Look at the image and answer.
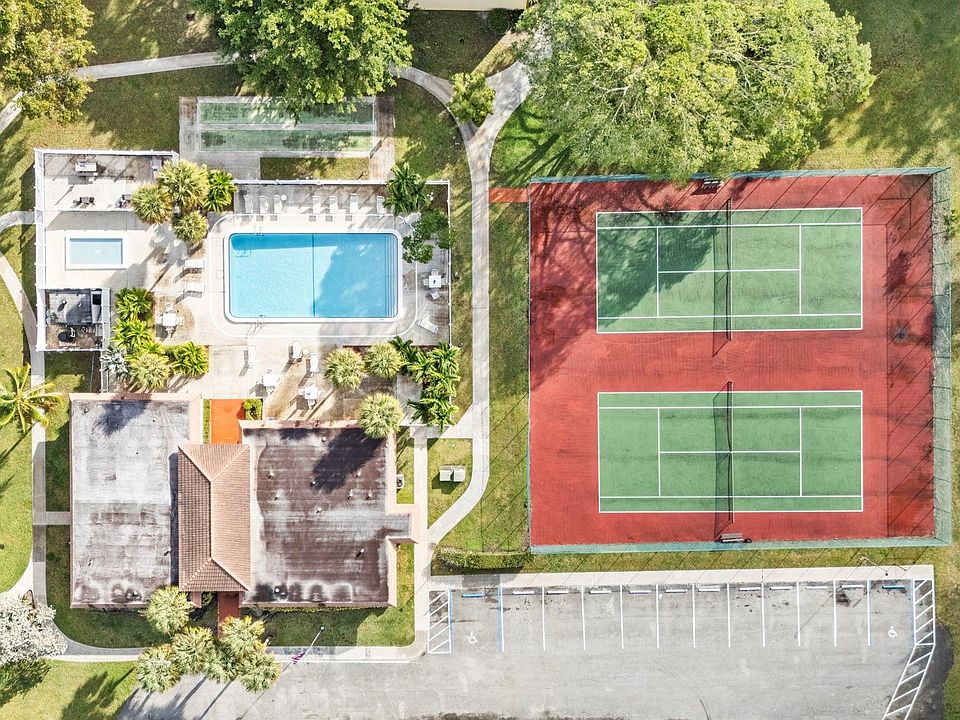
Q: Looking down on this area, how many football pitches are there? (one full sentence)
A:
Not a single football pitch can be seen.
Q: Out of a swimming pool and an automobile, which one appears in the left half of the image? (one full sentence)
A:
Visible in the left half of the image is a swimming pool.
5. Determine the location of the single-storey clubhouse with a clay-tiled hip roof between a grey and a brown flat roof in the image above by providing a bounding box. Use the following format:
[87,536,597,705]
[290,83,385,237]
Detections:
[69,393,419,609]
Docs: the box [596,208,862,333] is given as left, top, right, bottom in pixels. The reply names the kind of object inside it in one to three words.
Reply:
tennis court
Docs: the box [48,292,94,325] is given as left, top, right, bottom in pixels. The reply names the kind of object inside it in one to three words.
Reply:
shed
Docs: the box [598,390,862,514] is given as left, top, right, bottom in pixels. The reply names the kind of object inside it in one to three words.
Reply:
tennis court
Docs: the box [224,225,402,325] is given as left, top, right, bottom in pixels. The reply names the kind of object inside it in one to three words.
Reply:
swimming pool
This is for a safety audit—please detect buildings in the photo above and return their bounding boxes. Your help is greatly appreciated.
[69,393,419,609]
[48,292,94,325]
[411,0,526,16]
